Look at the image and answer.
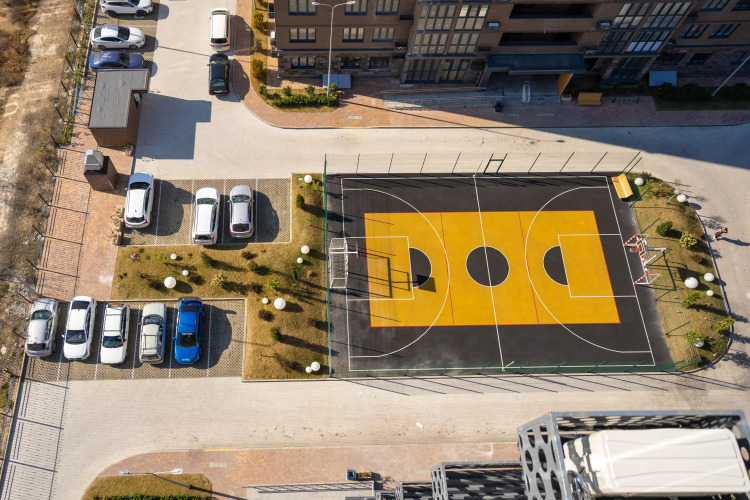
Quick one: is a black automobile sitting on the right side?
No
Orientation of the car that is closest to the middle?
vertically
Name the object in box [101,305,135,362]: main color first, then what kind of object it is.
white car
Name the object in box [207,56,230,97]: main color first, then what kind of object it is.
black car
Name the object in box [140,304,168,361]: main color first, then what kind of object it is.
white car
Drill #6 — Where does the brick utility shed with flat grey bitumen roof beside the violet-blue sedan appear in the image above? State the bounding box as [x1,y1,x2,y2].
[87,68,150,146]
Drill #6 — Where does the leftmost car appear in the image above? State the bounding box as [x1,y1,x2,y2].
[28,299,62,357]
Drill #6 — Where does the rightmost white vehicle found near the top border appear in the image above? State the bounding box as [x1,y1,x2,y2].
[209,12,231,53]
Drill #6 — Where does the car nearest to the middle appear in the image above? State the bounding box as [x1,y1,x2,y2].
[229,188,255,238]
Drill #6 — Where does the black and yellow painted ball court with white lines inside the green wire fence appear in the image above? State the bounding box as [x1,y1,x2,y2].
[325,171,676,378]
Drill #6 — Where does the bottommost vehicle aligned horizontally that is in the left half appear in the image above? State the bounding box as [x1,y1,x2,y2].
[89,51,141,73]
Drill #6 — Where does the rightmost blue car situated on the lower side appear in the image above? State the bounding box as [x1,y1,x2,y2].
[174,297,204,362]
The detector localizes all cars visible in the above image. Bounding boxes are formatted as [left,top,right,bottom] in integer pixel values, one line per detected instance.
[89,51,141,73]
[207,56,230,97]
[209,12,231,53]
[140,304,168,361]
[90,26,143,51]
[28,299,62,357]
[64,296,99,359]
[101,305,135,362]
[127,177,155,229]
[100,0,150,18]
[229,188,255,238]
[194,190,220,243]
[174,297,204,362]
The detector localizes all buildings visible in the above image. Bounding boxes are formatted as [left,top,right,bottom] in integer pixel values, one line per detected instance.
[87,68,150,146]
[245,410,750,500]
[264,0,750,110]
